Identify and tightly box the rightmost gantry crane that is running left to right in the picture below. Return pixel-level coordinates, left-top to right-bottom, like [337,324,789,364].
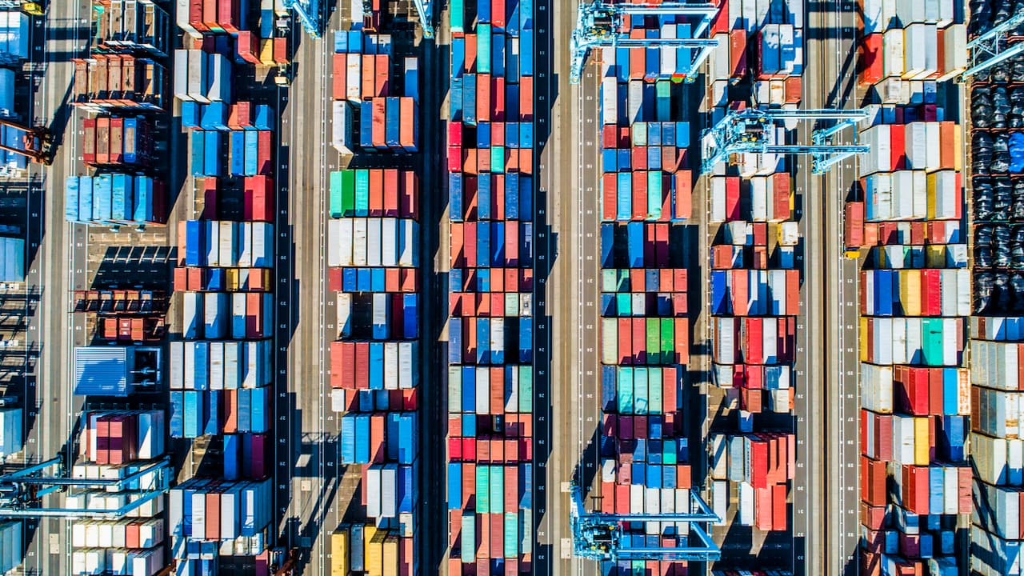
[700,97,875,175]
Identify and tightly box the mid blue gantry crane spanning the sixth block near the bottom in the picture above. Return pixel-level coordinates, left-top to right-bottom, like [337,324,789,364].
[567,478,725,573]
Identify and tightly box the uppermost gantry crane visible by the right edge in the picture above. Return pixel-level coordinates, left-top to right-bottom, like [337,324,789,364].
[962,11,1024,86]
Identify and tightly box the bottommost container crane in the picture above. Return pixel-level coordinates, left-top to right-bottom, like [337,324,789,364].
[121,545,296,576]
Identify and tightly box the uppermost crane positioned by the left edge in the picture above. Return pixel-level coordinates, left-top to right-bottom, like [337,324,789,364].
[0,112,50,169]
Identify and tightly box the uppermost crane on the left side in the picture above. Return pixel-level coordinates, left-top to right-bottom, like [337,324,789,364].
[271,0,431,43]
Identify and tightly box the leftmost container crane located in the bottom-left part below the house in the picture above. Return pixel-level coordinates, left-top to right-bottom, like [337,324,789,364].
[0,448,168,535]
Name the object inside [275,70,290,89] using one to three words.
vehicle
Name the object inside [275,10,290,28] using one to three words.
vehicle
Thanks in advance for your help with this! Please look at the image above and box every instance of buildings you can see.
[72,350,134,395]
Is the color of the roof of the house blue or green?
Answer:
blue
